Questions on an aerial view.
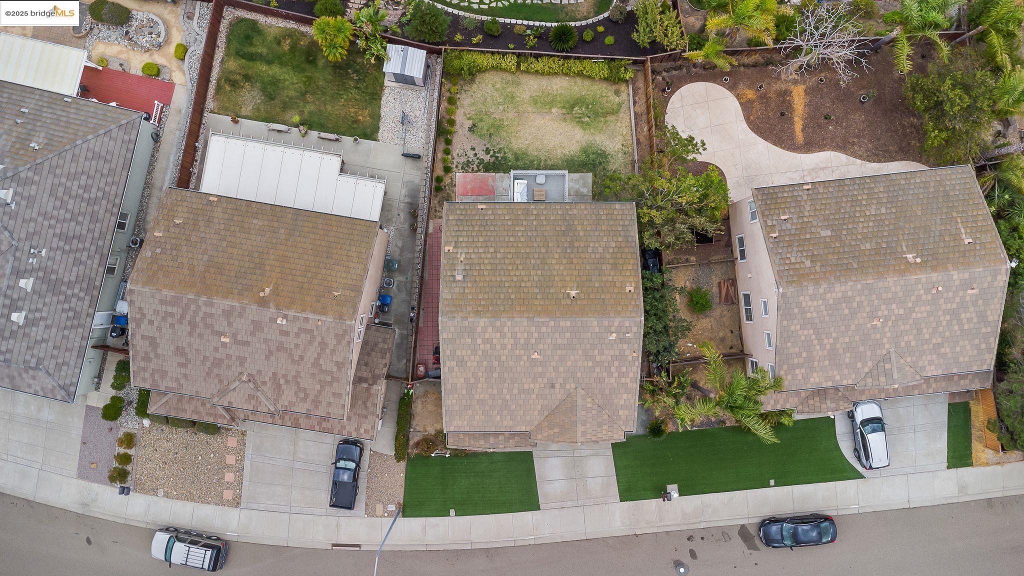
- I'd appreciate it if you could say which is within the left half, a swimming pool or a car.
car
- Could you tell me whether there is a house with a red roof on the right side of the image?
No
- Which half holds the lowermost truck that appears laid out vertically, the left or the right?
left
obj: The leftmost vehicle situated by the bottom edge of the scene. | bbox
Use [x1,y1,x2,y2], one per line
[144,527,229,576]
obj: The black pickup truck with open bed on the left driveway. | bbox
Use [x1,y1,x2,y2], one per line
[327,438,364,514]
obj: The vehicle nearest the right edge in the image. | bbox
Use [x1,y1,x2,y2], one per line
[848,402,893,471]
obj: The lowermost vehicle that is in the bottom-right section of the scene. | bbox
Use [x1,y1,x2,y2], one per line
[757,512,836,552]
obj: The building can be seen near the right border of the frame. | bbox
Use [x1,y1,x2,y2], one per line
[733,162,1024,414]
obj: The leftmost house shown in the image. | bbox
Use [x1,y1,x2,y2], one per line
[0,79,158,406]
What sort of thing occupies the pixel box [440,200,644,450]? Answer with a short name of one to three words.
house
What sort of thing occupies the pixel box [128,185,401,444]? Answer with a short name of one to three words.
house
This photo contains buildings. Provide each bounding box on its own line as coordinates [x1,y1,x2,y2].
[384,45,428,85]
[128,185,401,444]
[0,79,158,406]
[440,200,644,450]
[733,162,1024,414]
